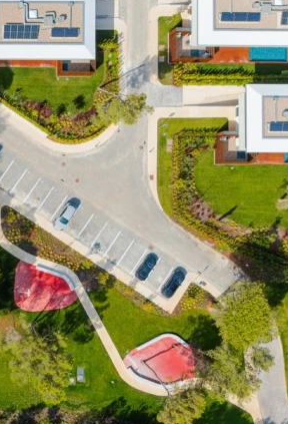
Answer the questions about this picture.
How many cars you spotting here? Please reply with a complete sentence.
In total, 3 cars can be seen.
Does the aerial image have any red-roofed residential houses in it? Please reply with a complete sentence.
No, there is no red-roofed residential house in the image.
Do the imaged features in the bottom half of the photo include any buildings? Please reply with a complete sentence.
No, no building is visible in the bottom half of the photo.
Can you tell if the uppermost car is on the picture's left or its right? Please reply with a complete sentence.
The uppermost car appears in the left half of the scene.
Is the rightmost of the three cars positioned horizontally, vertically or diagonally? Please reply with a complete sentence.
The rightmost of the three cars is oriented diagonally.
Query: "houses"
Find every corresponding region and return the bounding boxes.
[0,0,96,77]
[214,84,288,164]
[168,0,288,63]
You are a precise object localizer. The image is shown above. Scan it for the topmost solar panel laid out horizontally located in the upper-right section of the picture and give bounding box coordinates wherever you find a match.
[220,12,262,25]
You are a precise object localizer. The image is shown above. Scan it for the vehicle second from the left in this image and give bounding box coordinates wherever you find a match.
[134,253,157,281]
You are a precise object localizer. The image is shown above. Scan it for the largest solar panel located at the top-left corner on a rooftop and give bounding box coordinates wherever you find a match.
[4,25,40,42]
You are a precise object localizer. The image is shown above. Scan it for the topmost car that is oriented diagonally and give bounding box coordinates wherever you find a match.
[55,201,78,229]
